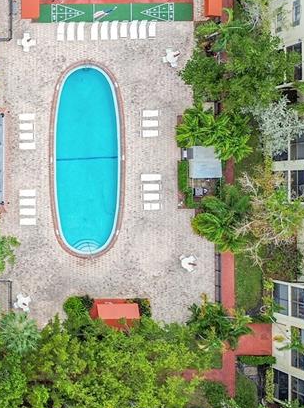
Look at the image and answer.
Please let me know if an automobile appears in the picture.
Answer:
No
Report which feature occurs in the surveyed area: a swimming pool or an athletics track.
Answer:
swimming pool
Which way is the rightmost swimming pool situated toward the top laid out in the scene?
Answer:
vertically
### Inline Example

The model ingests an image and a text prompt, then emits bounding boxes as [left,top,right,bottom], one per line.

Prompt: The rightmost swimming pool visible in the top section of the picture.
[50,60,125,258]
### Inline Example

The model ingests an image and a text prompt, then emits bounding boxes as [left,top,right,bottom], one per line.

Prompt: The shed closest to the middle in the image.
[178,146,222,178]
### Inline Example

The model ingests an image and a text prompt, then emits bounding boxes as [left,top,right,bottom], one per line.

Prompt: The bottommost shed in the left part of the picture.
[89,300,140,331]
